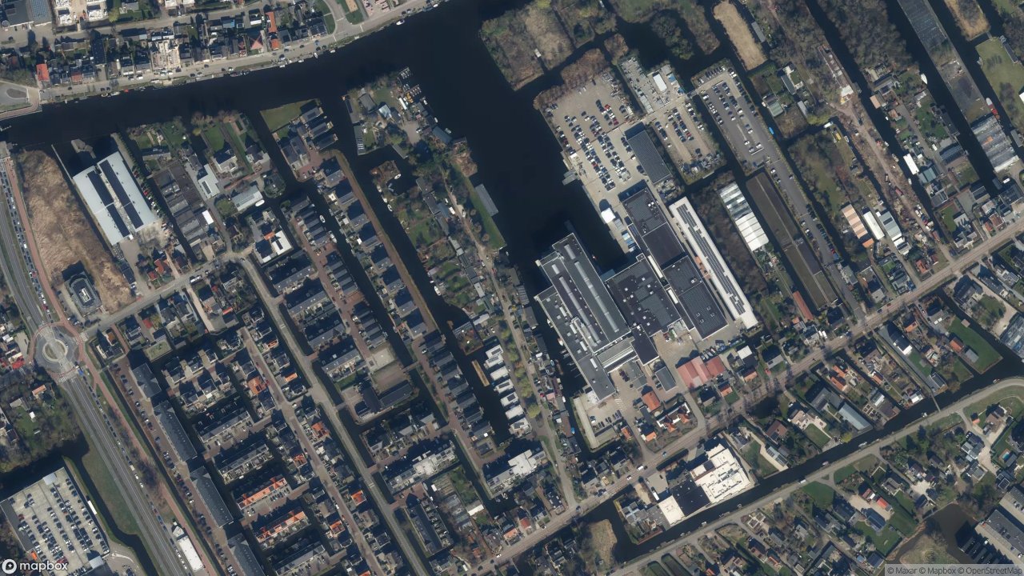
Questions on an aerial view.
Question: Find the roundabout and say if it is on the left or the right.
left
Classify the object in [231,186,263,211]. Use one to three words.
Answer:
building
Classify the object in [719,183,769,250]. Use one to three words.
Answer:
shed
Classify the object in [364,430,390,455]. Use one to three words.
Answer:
house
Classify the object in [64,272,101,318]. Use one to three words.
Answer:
building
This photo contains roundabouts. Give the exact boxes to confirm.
[32,327,80,378]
